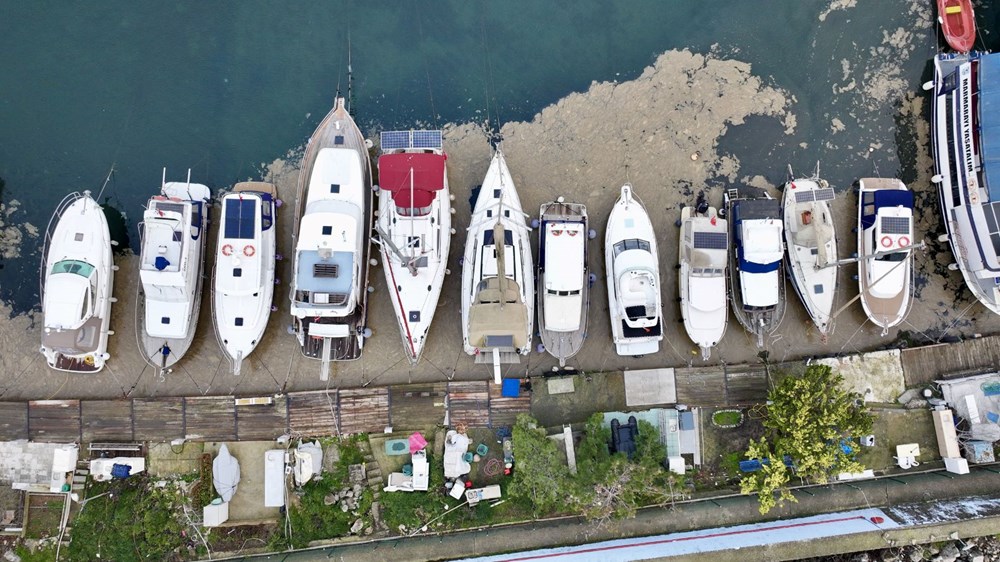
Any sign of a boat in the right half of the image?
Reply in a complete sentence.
Yes, a boat can be seen in the right half of the image.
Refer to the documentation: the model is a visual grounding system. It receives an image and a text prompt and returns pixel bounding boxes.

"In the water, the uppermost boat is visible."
[936,0,982,53]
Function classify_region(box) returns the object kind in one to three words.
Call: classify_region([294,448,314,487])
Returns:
boat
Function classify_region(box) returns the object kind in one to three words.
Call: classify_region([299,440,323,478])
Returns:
boat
